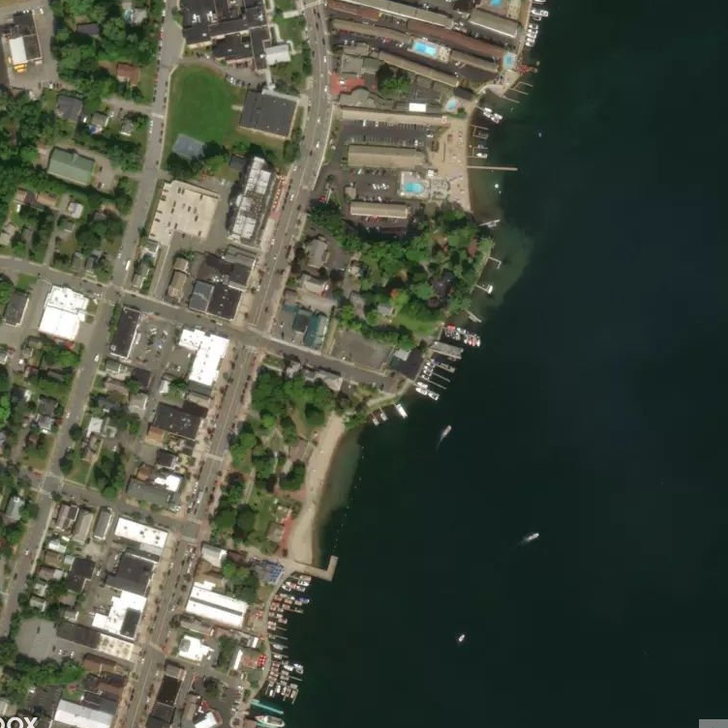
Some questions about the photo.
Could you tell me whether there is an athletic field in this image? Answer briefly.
Yes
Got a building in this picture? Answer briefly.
Yes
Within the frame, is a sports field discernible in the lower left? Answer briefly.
No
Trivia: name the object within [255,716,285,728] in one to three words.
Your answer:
ship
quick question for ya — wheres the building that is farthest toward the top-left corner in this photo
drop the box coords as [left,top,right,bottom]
[9,10,42,65]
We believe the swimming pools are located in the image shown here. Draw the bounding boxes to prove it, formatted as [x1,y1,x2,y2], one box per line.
[445,95,466,113]
[408,36,451,64]
[502,52,516,69]
[483,0,509,14]
[400,172,449,198]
